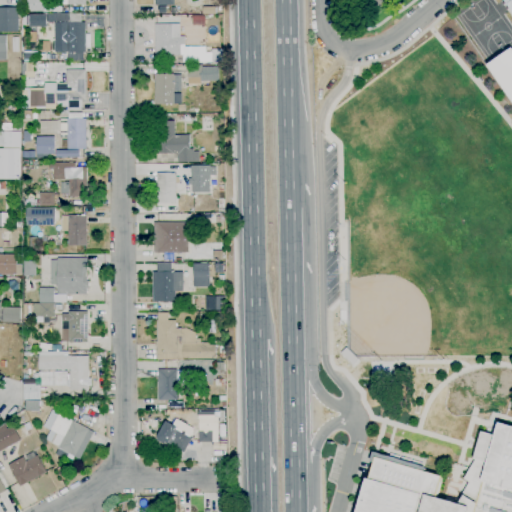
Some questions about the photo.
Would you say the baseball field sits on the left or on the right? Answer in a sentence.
The baseball field appears in the right half of the scene.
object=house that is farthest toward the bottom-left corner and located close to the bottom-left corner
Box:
[8,450,46,487]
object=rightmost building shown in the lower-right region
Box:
[459,420,512,512]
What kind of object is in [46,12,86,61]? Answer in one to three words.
house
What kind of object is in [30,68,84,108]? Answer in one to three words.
house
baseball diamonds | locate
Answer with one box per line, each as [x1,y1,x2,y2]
[332,40,512,358]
